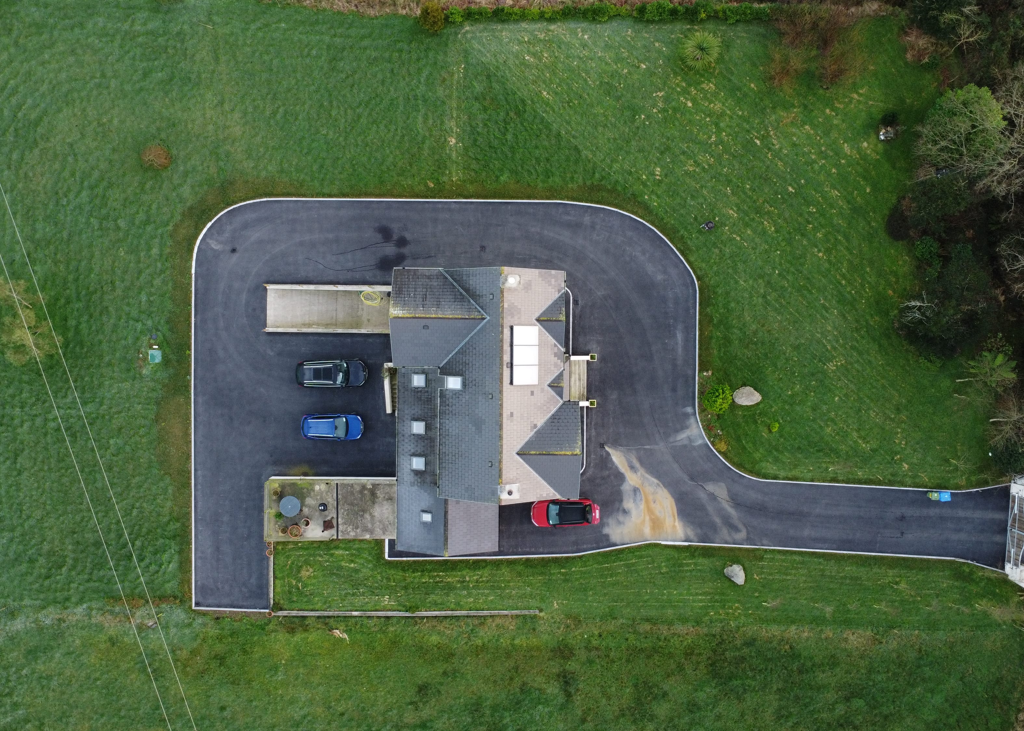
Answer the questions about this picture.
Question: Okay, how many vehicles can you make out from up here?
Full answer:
Altogether the scene contains 3 vehicles.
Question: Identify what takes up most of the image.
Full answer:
The largest share of the image is taken up by grass.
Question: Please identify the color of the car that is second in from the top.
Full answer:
The car that is second in from the top looks blue in the image.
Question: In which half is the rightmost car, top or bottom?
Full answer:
It is in the bottom half that the rightmost car appears.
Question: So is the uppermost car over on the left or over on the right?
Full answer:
The uppermost car appears in the left half of the scene.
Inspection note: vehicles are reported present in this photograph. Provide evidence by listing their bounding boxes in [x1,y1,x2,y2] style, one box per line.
[299,411,363,444]
[531,499,601,533]
[295,356,367,390]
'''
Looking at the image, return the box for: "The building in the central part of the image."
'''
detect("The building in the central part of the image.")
[388,266,583,558]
